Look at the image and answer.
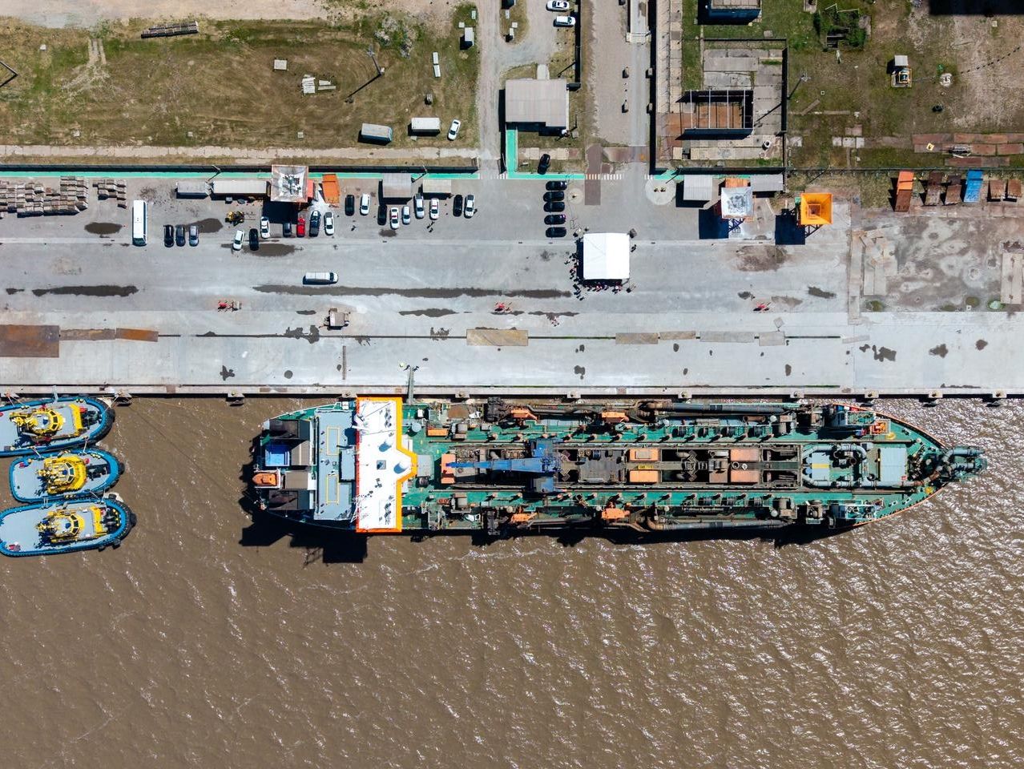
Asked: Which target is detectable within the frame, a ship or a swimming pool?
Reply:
ship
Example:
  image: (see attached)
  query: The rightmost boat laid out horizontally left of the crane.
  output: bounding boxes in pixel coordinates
[253,472,280,485]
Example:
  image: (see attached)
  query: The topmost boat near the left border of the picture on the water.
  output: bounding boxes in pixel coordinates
[0,395,117,456]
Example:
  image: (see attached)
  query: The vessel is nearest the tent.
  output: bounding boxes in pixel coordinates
[252,398,988,533]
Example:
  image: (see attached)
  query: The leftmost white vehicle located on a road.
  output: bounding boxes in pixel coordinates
[130,199,148,245]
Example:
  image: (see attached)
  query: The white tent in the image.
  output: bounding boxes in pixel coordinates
[583,233,630,280]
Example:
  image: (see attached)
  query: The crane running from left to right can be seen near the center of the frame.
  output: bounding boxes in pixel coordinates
[444,440,566,493]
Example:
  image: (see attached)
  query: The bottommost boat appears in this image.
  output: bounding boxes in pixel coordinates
[0,499,137,559]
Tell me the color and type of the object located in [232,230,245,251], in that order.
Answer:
white vehicle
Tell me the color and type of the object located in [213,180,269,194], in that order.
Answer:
white trailer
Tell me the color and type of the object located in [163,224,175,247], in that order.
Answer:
black vehicle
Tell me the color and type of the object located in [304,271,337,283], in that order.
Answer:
white vehicle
